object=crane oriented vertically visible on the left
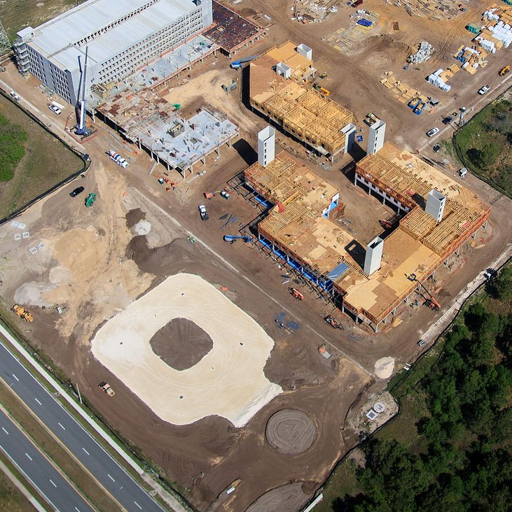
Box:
[71,44,97,141]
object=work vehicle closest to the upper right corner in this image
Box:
[497,60,512,78]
